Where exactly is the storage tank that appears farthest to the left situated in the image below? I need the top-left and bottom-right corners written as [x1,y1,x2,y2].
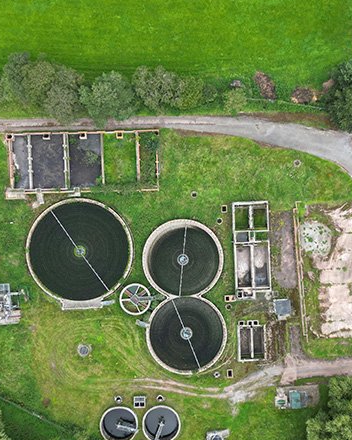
[100,405,139,440]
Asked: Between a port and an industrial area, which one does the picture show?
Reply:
industrial area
